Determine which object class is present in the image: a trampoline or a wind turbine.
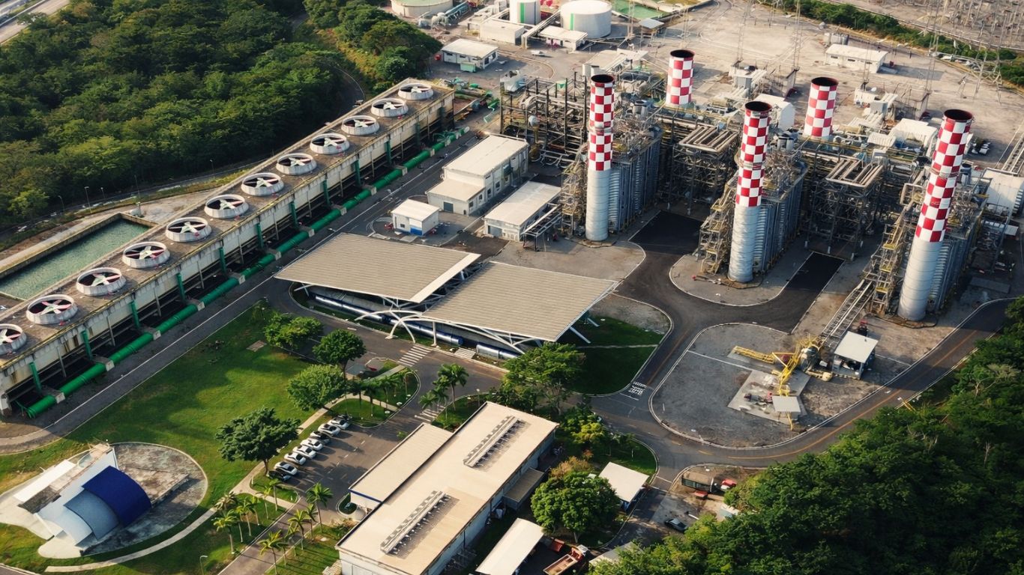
wind turbine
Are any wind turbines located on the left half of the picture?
No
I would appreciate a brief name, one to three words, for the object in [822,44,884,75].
shed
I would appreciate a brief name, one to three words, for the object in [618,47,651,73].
house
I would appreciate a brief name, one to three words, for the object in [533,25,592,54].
building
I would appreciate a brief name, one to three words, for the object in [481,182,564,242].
building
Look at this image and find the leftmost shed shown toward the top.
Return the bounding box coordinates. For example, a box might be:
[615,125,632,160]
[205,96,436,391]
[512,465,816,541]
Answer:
[388,197,434,234]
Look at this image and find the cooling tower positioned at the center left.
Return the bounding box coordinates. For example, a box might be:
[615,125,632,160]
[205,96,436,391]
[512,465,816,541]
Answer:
[0,83,463,423]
